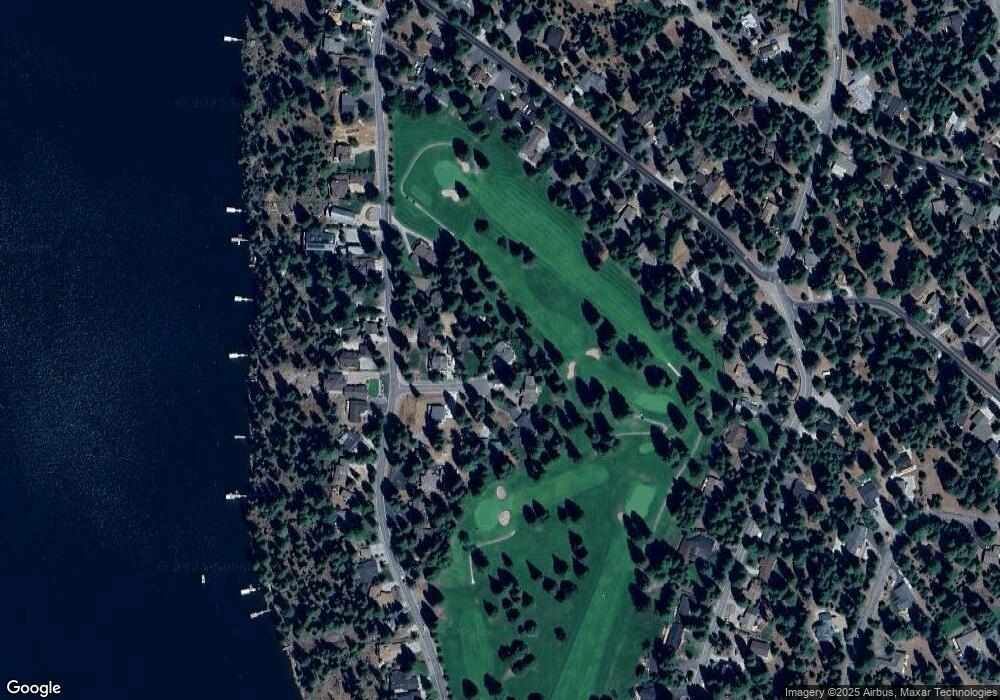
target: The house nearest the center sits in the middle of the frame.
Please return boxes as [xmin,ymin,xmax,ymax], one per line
[493,339,517,363]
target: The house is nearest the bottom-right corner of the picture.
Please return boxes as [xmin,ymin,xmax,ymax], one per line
[953,629,985,655]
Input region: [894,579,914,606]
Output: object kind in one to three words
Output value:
house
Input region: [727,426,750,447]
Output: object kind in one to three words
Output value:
house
